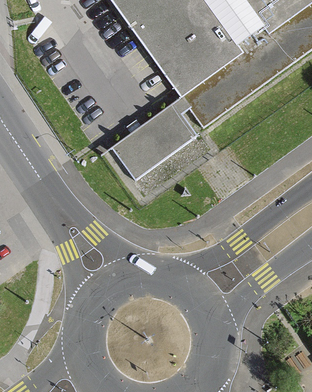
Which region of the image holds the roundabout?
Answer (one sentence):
Look in the bottom portion of the view to spot the roundabout.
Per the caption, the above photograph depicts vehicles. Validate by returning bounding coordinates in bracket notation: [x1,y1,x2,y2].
[28,0,42,12]
[80,0,99,9]
[35,36,59,56]
[0,246,12,260]
[116,39,138,58]
[100,22,123,40]
[77,96,99,114]
[108,30,130,48]
[88,2,109,20]
[94,12,116,30]
[62,78,83,95]
[141,73,163,92]
[48,59,68,76]
[27,12,52,44]
[130,254,157,275]
[42,48,62,66]
[84,106,106,124]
